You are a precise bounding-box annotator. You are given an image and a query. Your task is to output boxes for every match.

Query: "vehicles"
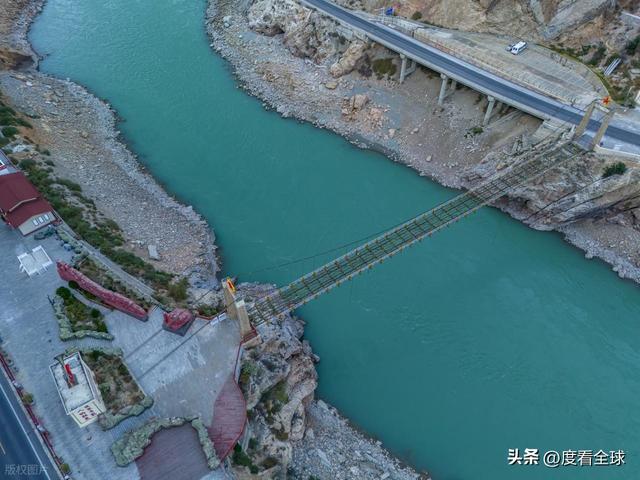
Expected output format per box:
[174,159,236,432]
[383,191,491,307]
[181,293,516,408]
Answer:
[512,42,525,54]
[504,44,514,51]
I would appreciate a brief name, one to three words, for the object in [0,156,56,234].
house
